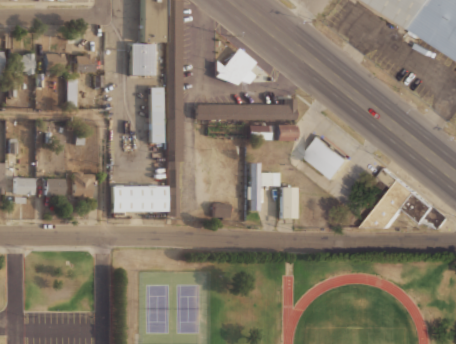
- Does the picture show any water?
No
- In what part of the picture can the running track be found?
bottom right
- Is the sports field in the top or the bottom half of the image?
bottom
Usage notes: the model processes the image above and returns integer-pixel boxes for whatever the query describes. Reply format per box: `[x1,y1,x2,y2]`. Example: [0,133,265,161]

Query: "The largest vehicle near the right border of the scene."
[412,43,437,56]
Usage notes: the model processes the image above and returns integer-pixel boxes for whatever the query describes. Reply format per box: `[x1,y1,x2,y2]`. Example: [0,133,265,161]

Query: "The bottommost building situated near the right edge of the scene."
[359,166,446,229]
